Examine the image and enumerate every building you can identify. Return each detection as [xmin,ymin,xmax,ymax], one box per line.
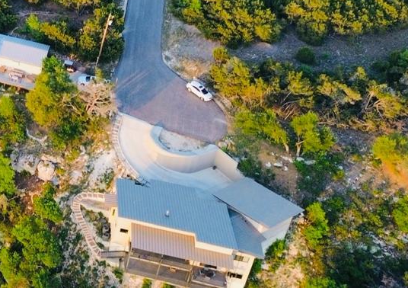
[0,36,45,102]
[102,177,303,288]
